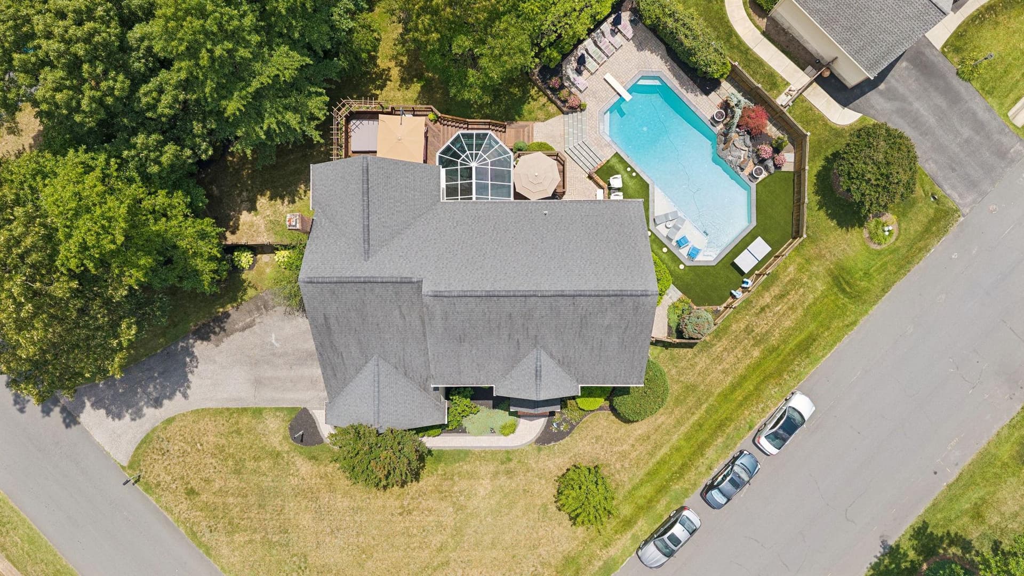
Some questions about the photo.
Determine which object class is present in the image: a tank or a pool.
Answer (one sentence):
The image shows a pool.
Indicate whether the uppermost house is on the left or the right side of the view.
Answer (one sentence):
You can find the uppermost house on the right side of the picture.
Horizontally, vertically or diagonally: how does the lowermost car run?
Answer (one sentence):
In this picture, the lowermost car lies diagonally.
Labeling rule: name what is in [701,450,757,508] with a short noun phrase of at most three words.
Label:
car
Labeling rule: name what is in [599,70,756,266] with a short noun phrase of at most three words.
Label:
swimming pool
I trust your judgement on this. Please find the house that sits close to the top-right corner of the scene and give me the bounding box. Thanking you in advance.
[774,0,954,87]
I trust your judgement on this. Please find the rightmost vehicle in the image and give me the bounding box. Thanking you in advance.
[752,393,810,454]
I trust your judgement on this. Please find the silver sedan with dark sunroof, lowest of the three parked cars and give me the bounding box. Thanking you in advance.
[640,506,698,565]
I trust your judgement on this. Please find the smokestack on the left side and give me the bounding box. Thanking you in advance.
[287,214,318,236]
